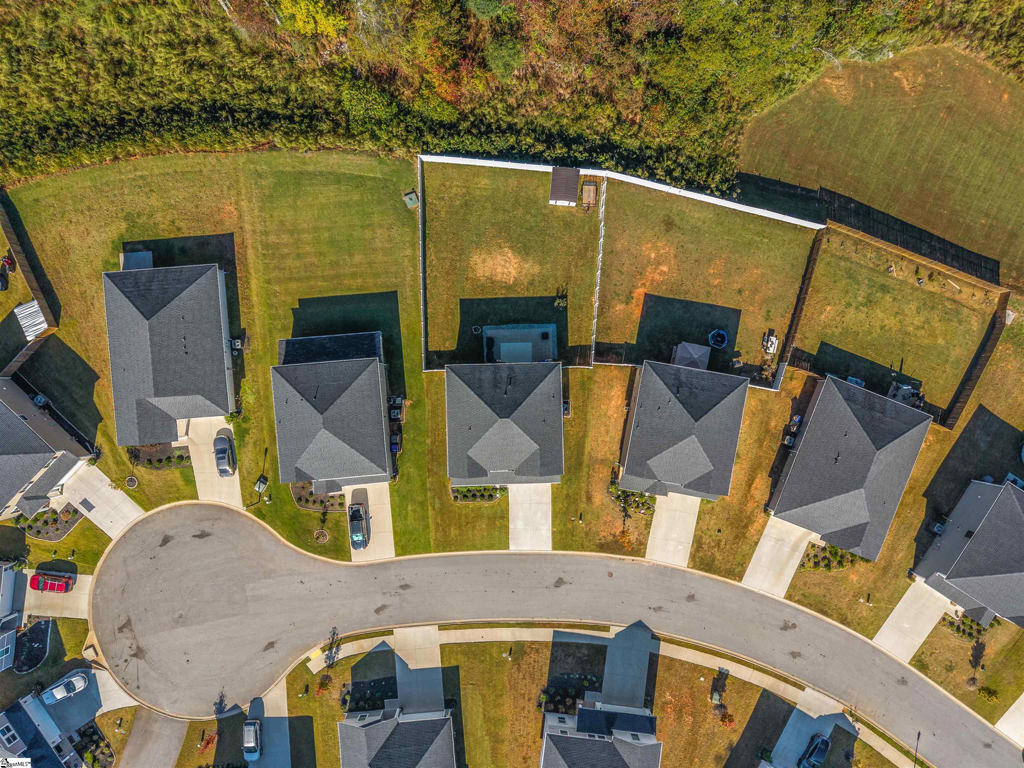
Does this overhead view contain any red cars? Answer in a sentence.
Yes, the photo shows a red car.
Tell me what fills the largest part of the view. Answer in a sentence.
The largest share of the image is taken up by grass.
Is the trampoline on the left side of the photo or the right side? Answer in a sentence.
The trampoline appears in the right half of the scene.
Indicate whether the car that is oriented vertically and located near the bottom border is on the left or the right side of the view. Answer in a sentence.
The car that is oriented vertically and located near the bottom border sits on the left side.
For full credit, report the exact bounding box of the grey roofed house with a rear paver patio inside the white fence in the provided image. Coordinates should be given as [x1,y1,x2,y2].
[445,362,564,487]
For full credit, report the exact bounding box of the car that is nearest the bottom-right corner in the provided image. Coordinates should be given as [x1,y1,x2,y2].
[796,734,829,768]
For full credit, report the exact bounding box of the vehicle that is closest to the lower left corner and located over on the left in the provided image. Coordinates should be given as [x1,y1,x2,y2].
[43,671,89,706]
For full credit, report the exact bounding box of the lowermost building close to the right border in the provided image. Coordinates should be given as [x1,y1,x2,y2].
[904,480,1024,641]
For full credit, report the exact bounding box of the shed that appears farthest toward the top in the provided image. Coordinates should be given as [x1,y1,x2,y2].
[549,167,580,206]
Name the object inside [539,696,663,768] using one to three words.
house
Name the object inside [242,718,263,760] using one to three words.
car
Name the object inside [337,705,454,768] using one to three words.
house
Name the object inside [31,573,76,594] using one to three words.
car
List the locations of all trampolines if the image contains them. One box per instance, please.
[709,328,731,349]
